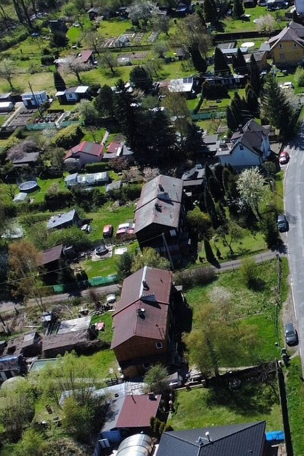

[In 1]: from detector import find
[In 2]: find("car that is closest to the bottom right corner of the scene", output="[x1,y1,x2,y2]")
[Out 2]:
[283,321,298,346]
